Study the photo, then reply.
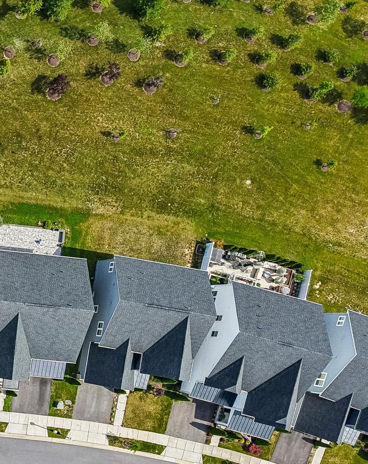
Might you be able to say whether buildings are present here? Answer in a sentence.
Yes, a building appears in the view.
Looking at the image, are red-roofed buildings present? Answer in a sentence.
No, I can't see a single red-roofed building in this photo.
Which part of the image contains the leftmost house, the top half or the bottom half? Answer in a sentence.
You can find the leftmost house in the bottom half.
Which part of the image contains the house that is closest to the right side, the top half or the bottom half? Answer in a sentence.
The house that is closest to the right side is in the bottom half of the image.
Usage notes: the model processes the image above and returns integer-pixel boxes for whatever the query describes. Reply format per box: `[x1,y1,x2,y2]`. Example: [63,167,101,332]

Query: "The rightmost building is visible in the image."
[290,311,368,446]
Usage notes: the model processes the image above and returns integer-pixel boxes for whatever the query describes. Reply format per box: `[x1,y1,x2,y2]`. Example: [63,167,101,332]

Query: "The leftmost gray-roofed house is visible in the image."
[0,249,95,391]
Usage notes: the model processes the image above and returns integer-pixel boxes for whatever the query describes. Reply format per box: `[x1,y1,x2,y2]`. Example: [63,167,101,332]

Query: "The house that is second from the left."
[72,255,217,391]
